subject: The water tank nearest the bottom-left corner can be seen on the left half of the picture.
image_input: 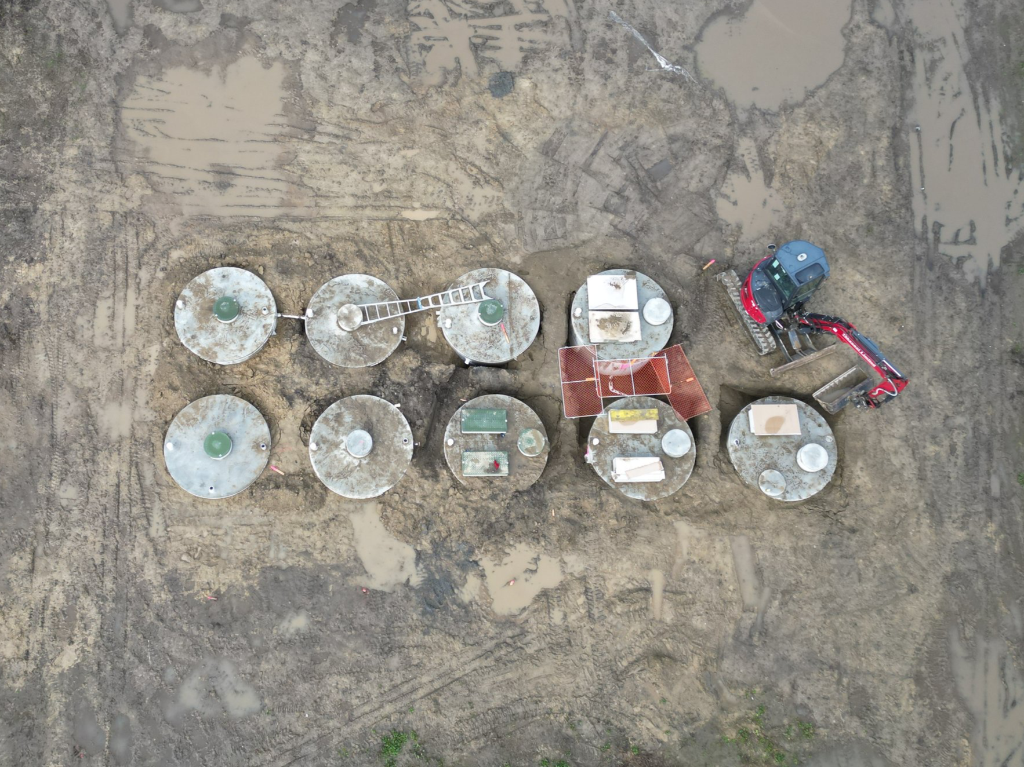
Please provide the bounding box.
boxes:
[164,394,273,500]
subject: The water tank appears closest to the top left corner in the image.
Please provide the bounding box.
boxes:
[174,268,282,365]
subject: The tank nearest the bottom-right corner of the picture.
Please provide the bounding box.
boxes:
[718,395,837,504]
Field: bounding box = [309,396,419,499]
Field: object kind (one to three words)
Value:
water tank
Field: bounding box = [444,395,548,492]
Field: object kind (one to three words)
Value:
water tank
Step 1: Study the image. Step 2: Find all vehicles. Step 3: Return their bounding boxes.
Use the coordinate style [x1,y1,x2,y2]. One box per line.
[714,240,913,417]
